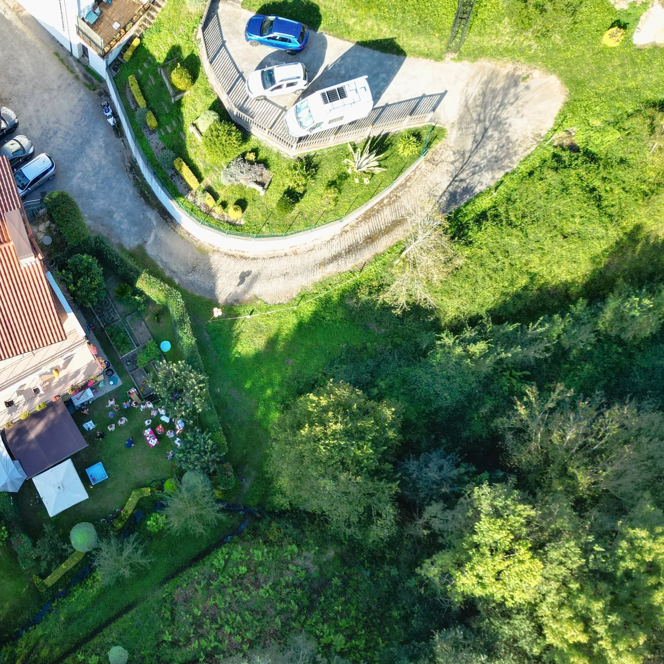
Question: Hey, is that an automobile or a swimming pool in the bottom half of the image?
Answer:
swimming pool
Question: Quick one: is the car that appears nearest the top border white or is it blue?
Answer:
blue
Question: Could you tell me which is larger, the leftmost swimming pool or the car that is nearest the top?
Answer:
the car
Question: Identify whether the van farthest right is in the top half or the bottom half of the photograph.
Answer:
top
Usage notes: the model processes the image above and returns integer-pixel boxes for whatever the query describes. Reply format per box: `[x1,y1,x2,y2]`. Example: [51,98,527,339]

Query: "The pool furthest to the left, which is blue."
[84,461,110,487]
